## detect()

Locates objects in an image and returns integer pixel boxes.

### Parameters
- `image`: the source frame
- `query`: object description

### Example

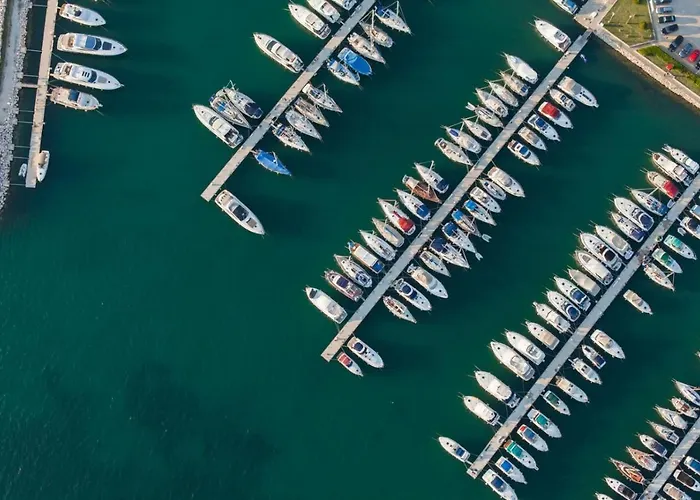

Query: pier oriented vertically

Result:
[25,0,58,188]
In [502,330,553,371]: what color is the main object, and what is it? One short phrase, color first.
white boat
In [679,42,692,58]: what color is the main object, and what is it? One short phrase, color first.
blue vehicle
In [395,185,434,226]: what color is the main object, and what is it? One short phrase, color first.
white boat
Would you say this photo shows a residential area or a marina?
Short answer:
marina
